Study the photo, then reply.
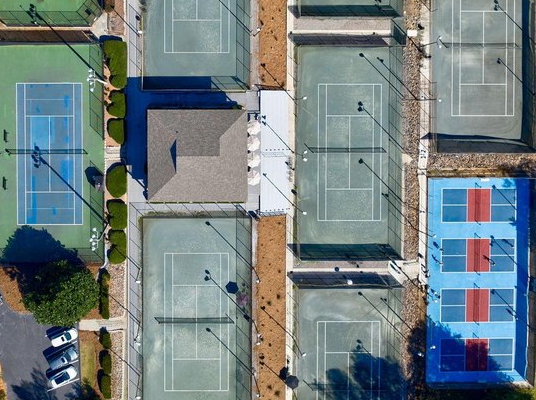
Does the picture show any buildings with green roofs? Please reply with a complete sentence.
No, there isn't any building with a green roof down there.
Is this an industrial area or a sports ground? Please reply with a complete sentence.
The picture captures a sports ground.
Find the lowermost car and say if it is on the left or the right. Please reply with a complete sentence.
The lowermost car is on the left side of the image.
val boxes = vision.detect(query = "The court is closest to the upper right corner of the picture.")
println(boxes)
[432,0,534,153]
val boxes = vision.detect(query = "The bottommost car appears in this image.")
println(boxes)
[49,367,78,387]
